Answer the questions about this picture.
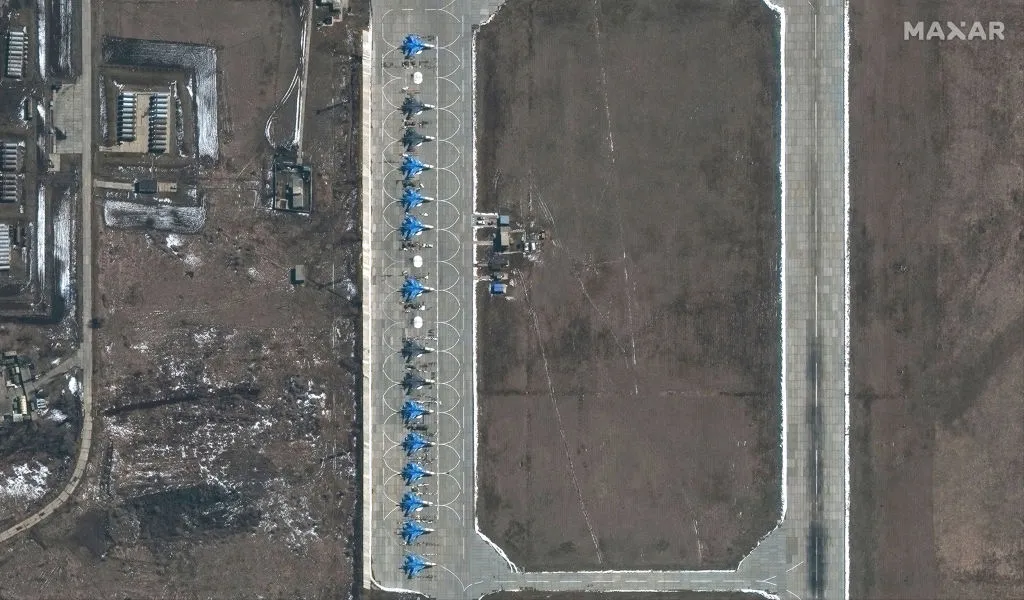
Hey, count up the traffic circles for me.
0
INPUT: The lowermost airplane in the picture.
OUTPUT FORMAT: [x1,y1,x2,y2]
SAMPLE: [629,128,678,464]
[403,553,436,577]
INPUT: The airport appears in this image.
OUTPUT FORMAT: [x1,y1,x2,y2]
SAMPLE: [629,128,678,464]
[371,0,846,600]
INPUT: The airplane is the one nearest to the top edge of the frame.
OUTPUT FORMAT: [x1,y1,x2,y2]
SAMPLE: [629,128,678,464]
[397,34,434,58]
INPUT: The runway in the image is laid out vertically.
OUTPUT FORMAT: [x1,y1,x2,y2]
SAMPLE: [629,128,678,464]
[784,0,846,600]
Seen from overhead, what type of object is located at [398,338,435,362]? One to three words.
airplane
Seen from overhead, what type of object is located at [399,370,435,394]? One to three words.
airplane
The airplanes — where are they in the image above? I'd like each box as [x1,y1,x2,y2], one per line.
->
[403,553,436,577]
[400,399,433,423]
[398,519,435,543]
[400,462,435,485]
[397,492,433,515]
[399,155,434,178]
[397,34,434,58]
[398,338,435,362]
[398,126,435,150]
[399,277,434,301]
[399,94,434,118]
[401,432,436,455]
[399,215,433,239]
[399,370,435,394]
[397,187,433,211]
